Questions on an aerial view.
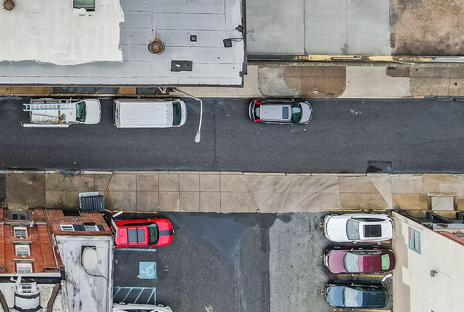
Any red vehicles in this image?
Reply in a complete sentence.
Yes, looking at the shot, I can spot a red vehicle.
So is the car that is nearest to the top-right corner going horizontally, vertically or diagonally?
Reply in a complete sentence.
The car that is nearest to the top-right corner has been laid out horizontally relative to the frame.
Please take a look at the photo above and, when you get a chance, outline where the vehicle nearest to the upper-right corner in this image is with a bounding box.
[247,96,311,128]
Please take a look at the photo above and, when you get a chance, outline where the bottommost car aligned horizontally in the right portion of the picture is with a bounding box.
[324,279,390,312]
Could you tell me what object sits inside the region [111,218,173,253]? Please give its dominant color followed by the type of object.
red car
